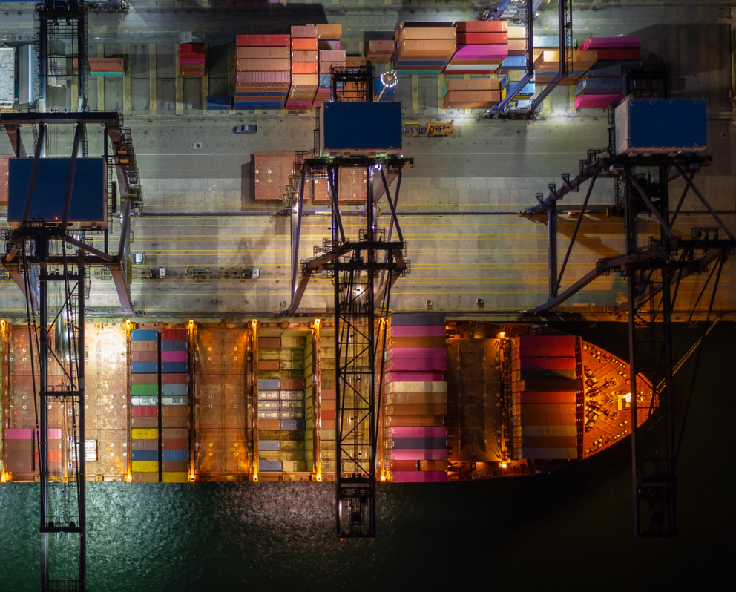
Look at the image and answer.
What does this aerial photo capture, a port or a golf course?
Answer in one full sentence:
The picture captures a port.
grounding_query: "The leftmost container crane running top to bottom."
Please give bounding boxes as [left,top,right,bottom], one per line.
[0,0,161,592]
